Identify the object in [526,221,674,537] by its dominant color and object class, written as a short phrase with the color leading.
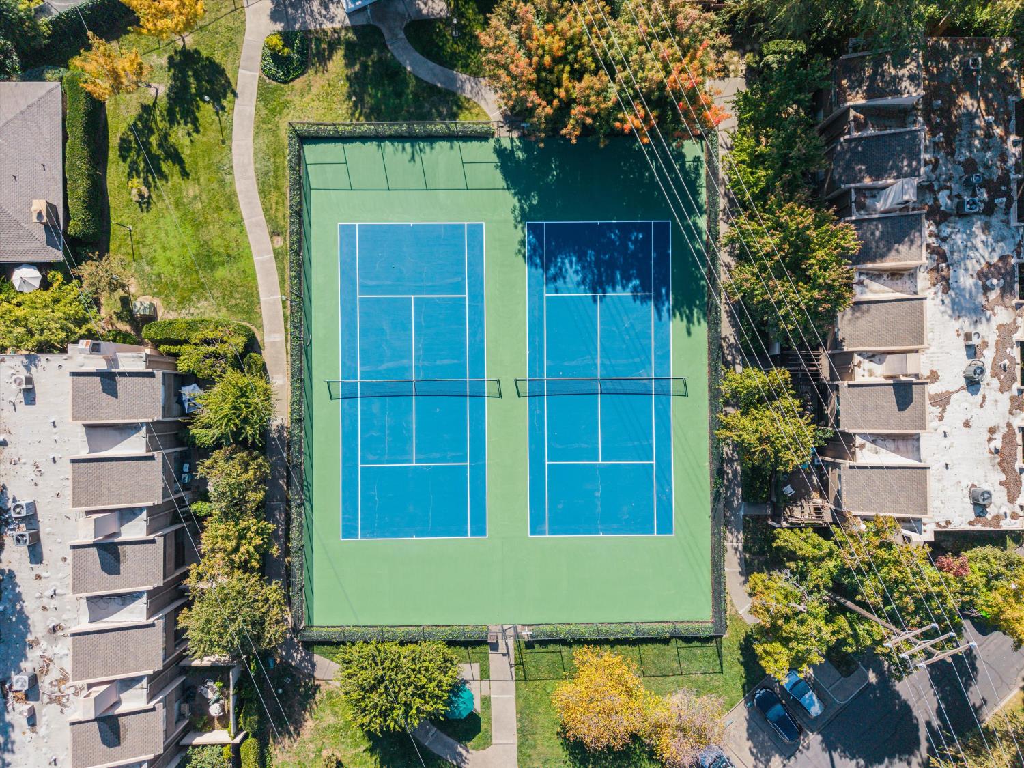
blue tennis court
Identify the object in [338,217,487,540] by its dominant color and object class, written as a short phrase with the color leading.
blue tennis court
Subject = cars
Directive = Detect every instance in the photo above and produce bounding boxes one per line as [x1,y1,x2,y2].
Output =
[696,736,735,768]
[752,682,806,751]
[780,663,827,722]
